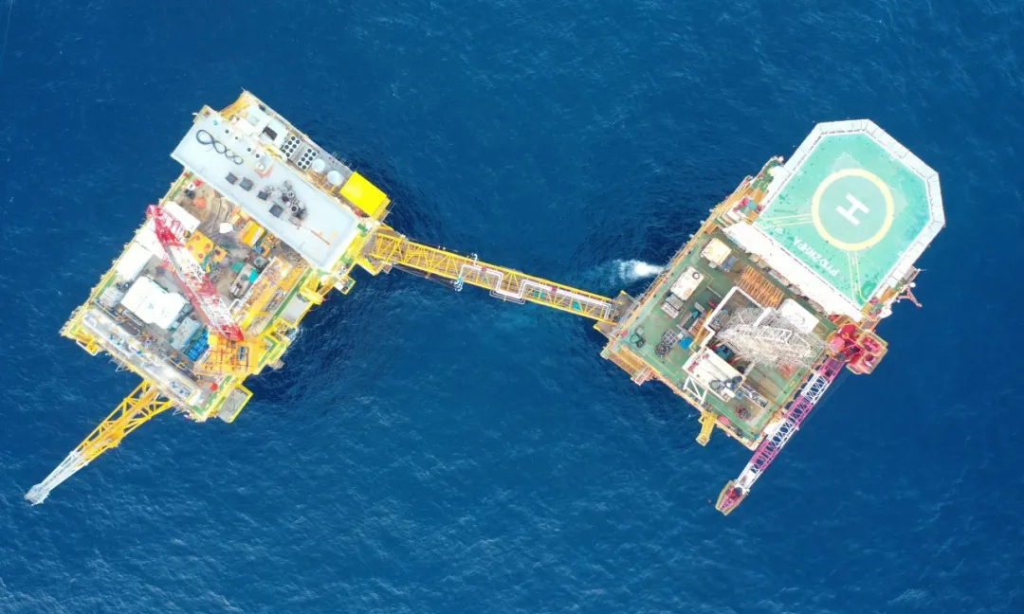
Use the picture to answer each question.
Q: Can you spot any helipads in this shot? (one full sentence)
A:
Yes, looking at the shot, I can spot a helipad.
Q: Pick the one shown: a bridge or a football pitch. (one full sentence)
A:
There is a bridge in the scene.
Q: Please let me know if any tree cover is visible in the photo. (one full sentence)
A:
No, there is no tree cover in the image.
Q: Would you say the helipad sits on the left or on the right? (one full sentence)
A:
You can find the helipad on the right side of the picture.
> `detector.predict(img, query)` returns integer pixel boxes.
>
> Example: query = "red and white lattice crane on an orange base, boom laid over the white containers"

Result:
[147,206,261,378]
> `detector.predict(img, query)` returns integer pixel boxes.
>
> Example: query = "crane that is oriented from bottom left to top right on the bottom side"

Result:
[714,324,892,517]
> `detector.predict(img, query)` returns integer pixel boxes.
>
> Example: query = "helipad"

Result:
[749,118,945,315]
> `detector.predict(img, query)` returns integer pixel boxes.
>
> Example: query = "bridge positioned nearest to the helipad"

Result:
[371,232,619,324]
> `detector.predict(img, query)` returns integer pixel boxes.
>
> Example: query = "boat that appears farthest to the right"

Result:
[875,306,894,319]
